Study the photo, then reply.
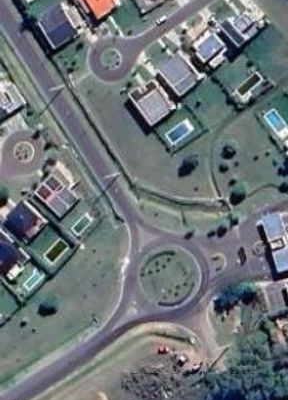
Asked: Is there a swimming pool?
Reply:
Yes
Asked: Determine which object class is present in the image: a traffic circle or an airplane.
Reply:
traffic circle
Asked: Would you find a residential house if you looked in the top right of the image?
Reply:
Yes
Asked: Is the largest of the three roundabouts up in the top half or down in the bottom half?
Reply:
bottom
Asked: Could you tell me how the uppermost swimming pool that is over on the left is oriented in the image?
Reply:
on a diagonal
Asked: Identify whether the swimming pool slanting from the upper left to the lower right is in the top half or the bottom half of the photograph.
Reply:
top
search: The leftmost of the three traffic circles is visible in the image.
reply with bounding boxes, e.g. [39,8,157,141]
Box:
[1,130,44,175]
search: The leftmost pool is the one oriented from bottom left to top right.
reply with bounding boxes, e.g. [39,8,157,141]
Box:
[25,274,44,290]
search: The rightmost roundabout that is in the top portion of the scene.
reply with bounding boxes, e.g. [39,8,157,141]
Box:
[89,37,132,81]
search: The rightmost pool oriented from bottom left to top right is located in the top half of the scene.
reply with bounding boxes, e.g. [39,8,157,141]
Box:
[235,71,264,97]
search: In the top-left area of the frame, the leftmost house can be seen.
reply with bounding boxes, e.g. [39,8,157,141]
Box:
[0,80,31,116]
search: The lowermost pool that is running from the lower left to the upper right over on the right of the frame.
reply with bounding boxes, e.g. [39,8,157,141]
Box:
[165,119,195,146]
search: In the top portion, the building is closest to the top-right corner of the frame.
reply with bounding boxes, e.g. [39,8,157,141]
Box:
[218,13,270,47]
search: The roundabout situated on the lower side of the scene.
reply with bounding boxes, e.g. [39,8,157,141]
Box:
[126,234,211,318]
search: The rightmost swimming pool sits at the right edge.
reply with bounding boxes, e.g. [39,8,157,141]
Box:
[264,110,288,139]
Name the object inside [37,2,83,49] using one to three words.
house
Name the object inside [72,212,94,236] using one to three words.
swimming pool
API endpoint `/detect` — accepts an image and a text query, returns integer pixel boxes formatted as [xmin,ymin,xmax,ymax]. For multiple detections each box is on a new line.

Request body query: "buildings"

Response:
[35,175,84,216]
[218,13,270,47]
[159,53,199,95]
[84,0,121,20]
[0,239,27,280]
[194,30,230,68]
[0,80,31,116]
[4,200,52,243]
[37,2,83,49]
[128,78,182,126]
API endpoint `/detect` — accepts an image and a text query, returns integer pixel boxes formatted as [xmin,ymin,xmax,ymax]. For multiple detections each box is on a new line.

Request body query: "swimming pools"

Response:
[72,212,94,236]
[44,239,69,263]
[235,71,264,97]
[25,274,44,290]
[264,110,288,139]
[165,119,195,146]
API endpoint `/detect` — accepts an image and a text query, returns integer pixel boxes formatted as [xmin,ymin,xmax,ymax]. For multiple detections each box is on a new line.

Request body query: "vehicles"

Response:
[176,355,187,364]
[156,346,168,353]
[156,16,165,24]
[238,249,245,261]
[186,366,196,373]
